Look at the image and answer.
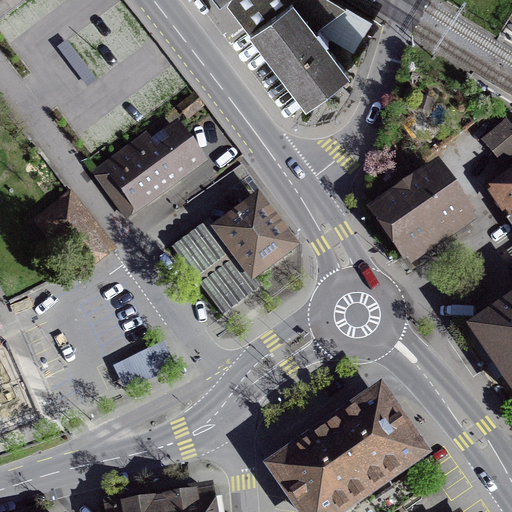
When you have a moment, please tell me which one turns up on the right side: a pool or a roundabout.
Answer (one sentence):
There is a roundabout on the right side.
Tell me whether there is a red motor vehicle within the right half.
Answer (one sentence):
Yes, looking within the right half, one can make out a red motor vehicle.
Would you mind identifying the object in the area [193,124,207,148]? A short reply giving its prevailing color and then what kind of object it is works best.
white vehicle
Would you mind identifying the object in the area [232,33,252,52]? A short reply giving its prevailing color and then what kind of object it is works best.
white car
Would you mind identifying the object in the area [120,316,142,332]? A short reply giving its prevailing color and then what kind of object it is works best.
white car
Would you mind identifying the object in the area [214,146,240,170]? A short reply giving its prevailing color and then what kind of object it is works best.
white vehicle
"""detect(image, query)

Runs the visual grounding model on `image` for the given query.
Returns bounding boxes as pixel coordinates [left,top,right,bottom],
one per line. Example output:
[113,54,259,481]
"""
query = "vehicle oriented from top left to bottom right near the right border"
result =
[476,470,496,492]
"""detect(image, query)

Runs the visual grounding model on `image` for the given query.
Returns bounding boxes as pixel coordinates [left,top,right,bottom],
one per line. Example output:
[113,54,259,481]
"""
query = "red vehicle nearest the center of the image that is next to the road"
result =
[358,263,380,288]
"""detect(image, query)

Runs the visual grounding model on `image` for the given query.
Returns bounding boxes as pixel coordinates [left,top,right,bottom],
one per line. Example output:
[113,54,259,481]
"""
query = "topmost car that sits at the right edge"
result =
[472,122,492,140]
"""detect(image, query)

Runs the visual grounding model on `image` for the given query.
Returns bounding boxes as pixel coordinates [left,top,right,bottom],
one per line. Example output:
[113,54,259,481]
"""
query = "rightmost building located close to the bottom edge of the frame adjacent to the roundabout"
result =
[264,379,432,512]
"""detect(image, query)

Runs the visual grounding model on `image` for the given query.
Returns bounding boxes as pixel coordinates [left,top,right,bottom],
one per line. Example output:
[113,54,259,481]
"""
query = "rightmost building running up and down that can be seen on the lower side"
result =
[466,289,512,393]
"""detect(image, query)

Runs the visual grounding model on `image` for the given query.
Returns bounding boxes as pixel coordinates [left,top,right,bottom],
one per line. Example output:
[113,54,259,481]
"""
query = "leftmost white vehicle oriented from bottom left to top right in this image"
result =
[35,294,58,315]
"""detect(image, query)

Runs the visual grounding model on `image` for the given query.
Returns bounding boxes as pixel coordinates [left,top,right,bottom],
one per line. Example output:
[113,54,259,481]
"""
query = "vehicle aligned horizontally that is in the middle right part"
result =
[440,304,474,316]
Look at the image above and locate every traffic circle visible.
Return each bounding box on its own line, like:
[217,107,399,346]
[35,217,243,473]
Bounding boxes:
[308,266,407,364]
